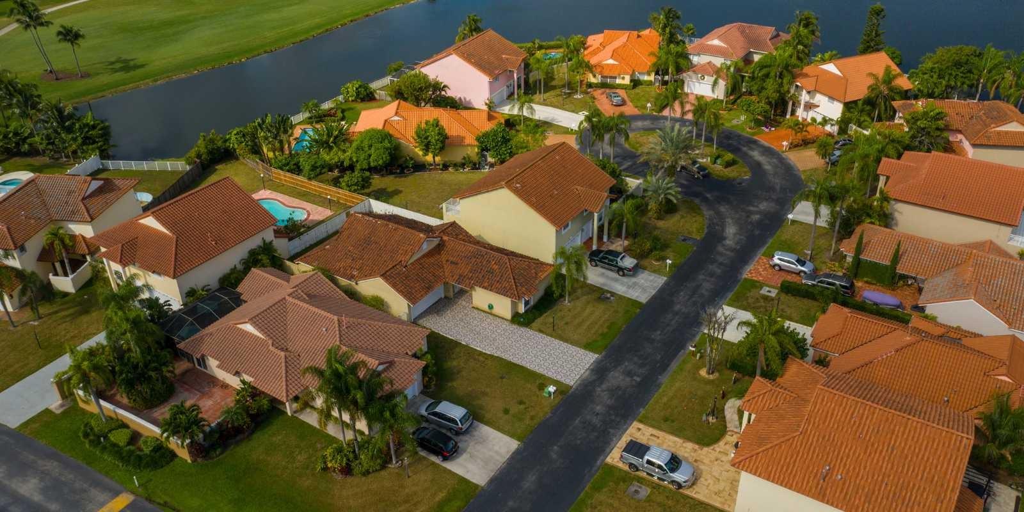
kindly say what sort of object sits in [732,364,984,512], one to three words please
house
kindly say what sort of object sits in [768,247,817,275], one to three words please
car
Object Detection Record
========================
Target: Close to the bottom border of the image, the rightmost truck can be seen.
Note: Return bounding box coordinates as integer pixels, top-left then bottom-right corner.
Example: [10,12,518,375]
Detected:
[620,437,699,487]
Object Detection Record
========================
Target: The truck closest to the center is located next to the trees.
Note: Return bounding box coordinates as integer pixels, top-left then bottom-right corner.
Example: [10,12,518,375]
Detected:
[586,247,640,275]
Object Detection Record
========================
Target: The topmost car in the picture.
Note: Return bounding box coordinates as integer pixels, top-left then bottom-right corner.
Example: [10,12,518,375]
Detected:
[605,88,625,104]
